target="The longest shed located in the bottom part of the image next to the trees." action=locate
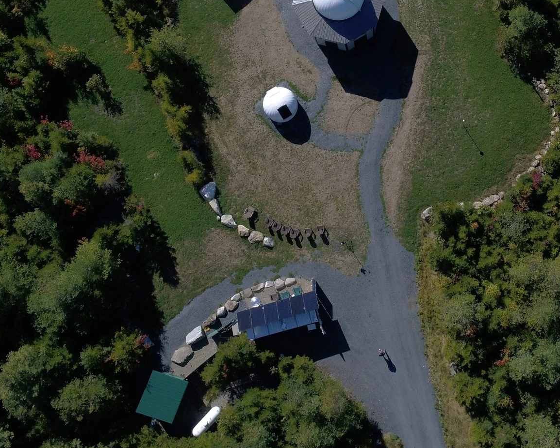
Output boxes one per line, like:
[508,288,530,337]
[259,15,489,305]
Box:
[238,291,322,340]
